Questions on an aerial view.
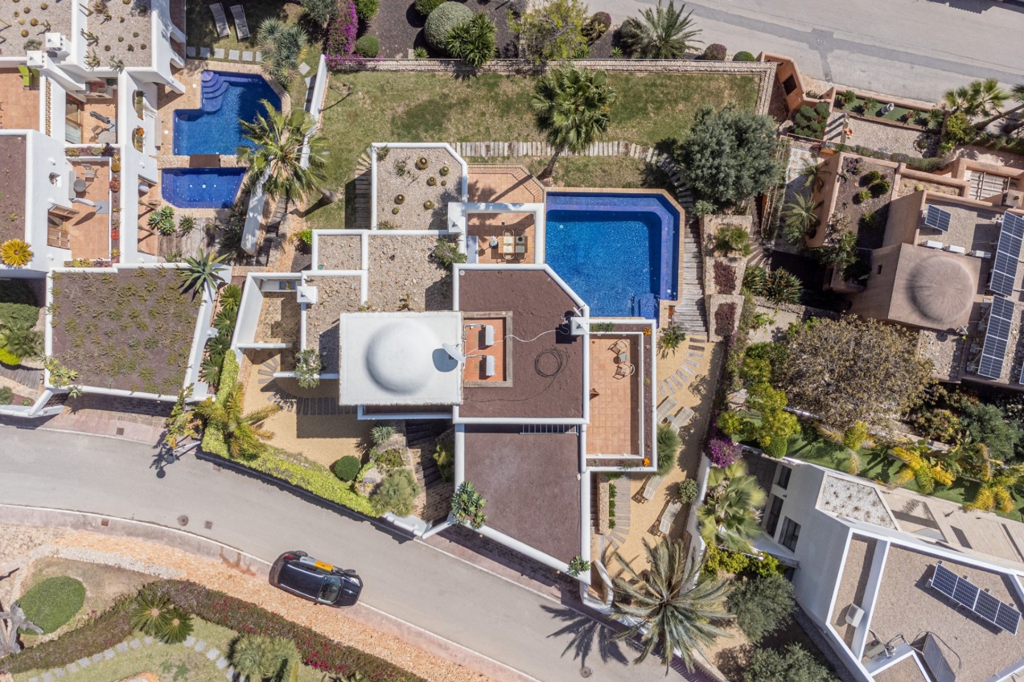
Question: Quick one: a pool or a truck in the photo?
pool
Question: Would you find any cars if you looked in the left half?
Yes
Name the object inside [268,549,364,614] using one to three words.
car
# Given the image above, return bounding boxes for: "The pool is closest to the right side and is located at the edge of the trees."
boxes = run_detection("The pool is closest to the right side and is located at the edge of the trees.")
[546,193,679,320]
